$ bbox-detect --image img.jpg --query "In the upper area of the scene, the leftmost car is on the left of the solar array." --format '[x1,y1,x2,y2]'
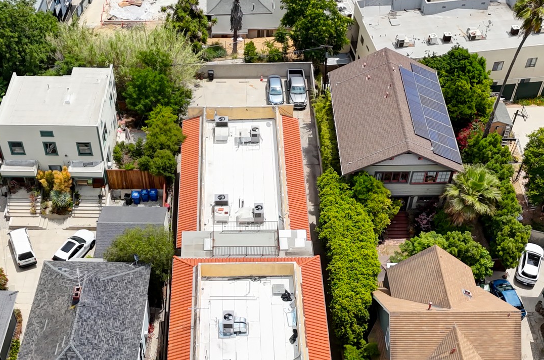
[264,79,285,105]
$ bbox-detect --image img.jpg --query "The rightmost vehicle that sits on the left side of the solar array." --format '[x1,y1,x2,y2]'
[286,72,309,113]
